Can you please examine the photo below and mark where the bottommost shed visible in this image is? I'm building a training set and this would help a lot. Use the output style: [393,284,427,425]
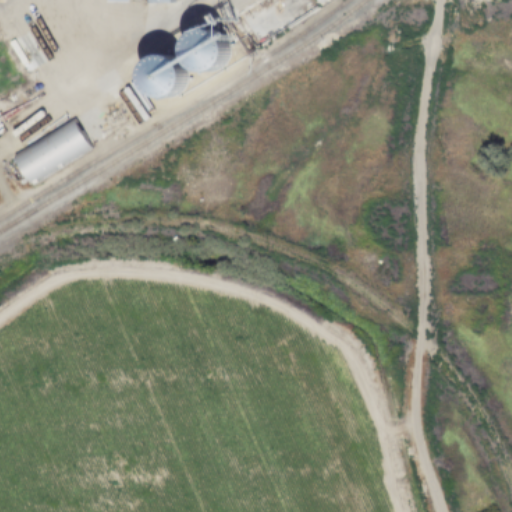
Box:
[18,116,92,182]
